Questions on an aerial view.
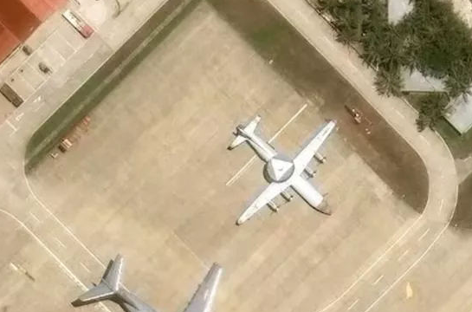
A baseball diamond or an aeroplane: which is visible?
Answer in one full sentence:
Of the two, only an aeroplane appears.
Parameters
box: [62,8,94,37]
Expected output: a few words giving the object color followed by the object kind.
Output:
white truck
